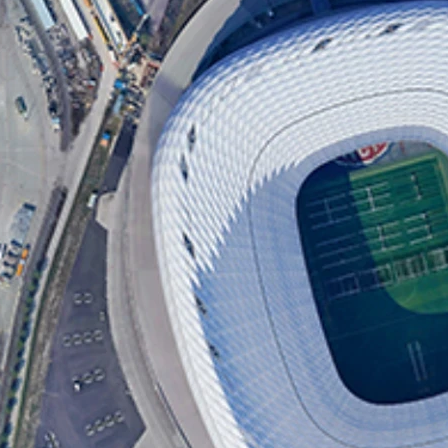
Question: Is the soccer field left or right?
right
